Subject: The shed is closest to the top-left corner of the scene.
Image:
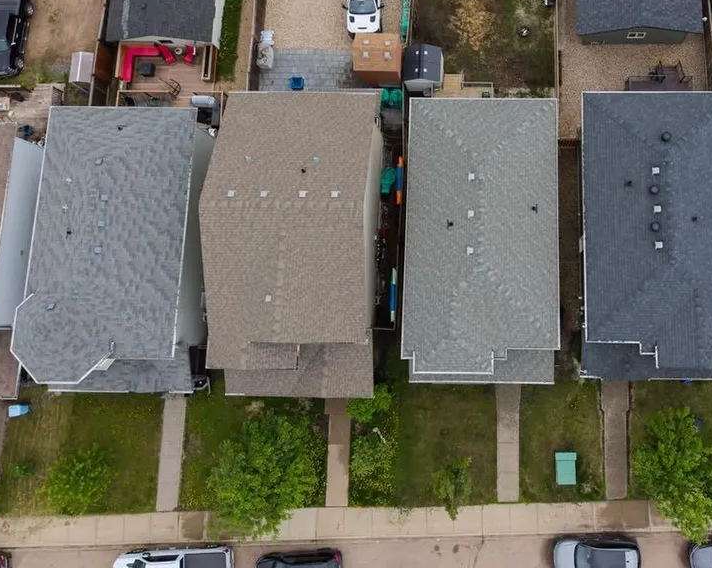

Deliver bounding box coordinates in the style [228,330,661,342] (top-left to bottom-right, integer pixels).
[69,55,95,88]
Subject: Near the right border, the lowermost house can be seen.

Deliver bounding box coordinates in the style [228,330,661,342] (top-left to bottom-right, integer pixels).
[577,90,712,382]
